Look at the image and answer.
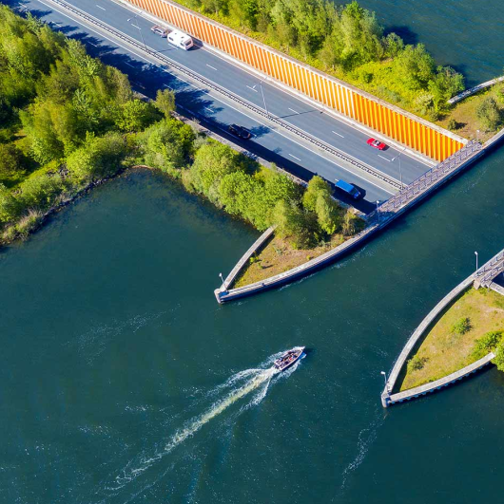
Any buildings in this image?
No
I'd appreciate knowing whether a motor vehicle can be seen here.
Yes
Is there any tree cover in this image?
Yes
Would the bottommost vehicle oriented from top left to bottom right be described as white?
No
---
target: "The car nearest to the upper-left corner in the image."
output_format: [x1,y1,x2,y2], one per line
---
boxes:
[152,26,170,38]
